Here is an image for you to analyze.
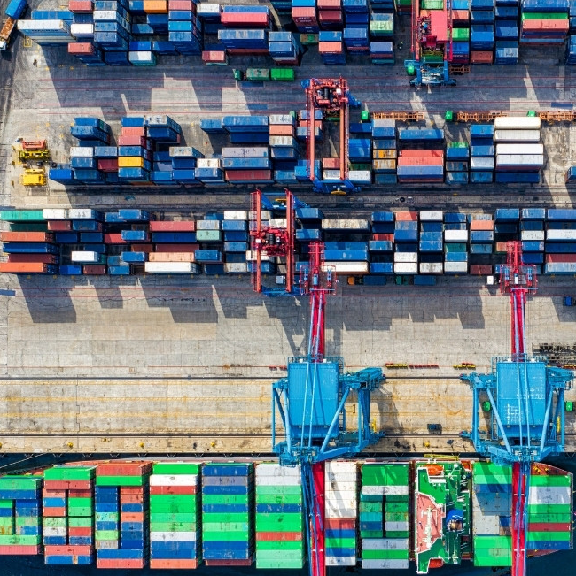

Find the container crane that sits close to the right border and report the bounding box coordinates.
[461,242,572,576]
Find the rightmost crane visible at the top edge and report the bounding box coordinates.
[409,0,460,88]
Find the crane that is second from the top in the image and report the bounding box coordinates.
[304,77,366,194]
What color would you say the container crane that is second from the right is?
red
